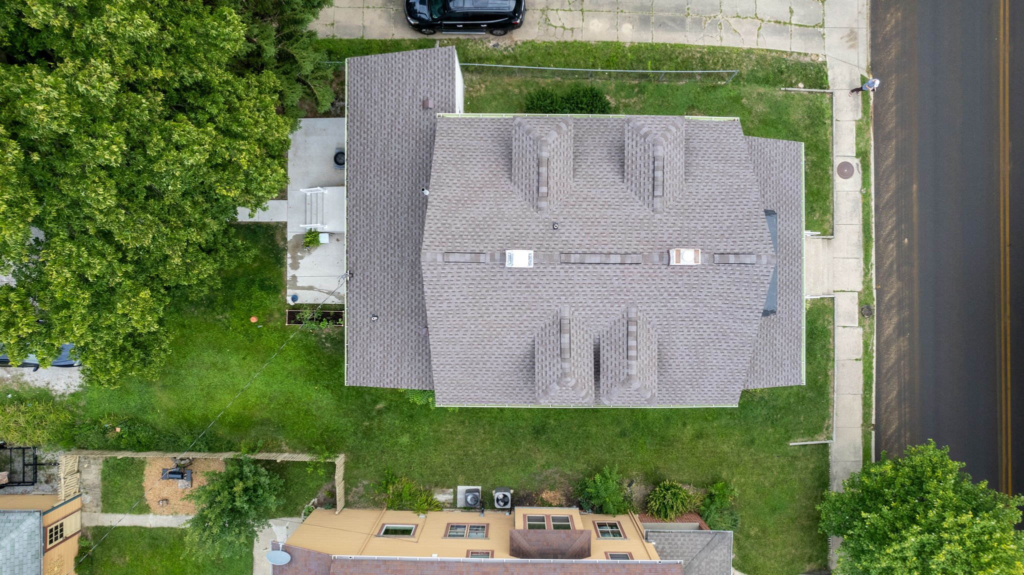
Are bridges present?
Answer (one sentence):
No, no bridge is visible in the scene.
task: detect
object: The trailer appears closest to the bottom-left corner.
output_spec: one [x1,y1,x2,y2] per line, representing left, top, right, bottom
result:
[0,441,58,487]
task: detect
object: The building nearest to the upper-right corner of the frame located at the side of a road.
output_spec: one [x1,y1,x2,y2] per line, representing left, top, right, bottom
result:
[343,46,807,407]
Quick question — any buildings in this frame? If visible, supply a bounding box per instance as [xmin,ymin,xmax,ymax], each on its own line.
[0,494,82,575]
[269,502,734,575]
[343,46,807,407]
